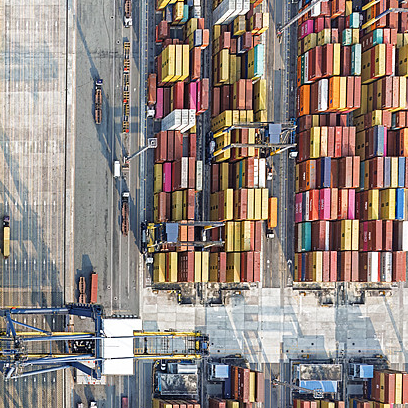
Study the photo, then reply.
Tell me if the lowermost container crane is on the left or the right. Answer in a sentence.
You can find the lowermost container crane on the left side of the picture.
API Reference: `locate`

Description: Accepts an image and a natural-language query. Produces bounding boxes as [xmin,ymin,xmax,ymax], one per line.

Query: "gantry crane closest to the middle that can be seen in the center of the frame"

[140,219,227,254]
